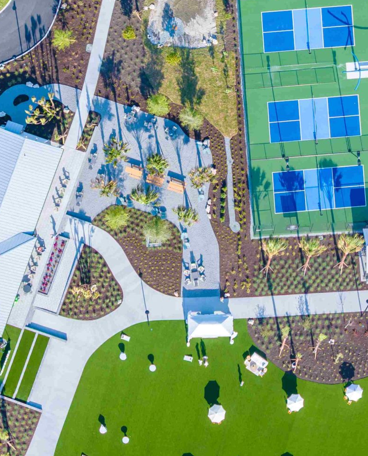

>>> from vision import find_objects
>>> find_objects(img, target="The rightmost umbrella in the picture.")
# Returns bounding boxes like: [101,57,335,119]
[346,384,362,401]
